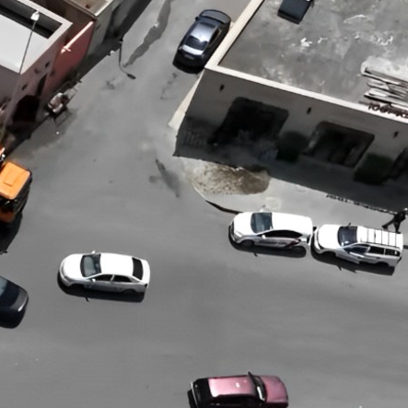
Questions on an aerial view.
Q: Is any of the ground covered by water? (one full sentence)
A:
No, the picture contains no water.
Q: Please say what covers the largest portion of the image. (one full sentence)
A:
The largest share of the image is taken up by paved ground.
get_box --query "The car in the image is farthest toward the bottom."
[190,368,289,408]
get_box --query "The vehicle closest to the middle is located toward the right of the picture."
[229,208,312,256]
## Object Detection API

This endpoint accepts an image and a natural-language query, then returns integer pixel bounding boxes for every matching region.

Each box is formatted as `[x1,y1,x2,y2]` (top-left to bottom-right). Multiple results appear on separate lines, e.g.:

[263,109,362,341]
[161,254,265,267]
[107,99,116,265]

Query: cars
[190,368,289,408]
[313,221,402,270]
[58,248,149,297]
[229,208,312,256]
[173,9,228,71]
[0,276,30,323]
